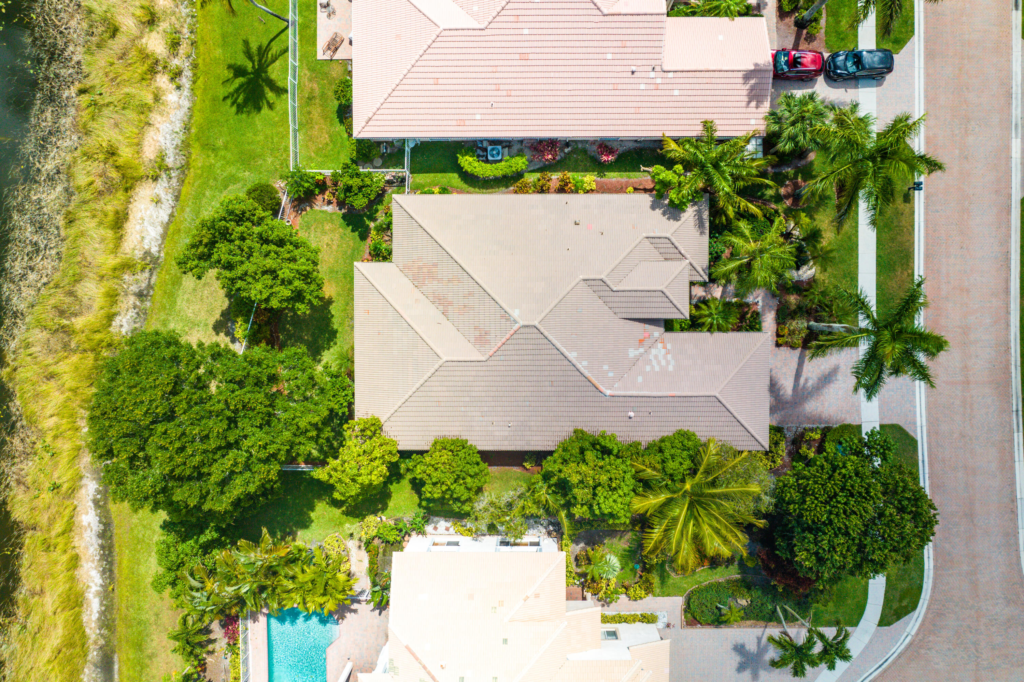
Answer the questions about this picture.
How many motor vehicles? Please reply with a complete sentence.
The picture shows 2 motor vehicles.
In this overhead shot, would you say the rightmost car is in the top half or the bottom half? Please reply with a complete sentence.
The top half of the photo is where the rightmost car is.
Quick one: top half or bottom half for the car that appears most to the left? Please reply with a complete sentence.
The car that appears most to the left is in the top half of the image.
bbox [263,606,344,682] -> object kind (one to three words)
swimming pool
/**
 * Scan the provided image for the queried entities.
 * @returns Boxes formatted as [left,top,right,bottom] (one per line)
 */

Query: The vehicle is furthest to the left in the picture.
[770,44,825,80]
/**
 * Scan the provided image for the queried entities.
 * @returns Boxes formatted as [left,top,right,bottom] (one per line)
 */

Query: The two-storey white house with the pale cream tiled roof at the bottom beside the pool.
[357,537,671,682]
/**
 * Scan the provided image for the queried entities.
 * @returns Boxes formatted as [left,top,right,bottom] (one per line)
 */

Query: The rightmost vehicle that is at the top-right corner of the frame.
[824,42,894,79]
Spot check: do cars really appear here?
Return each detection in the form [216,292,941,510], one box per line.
[824,42,894,79]
[770,44,825,80]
